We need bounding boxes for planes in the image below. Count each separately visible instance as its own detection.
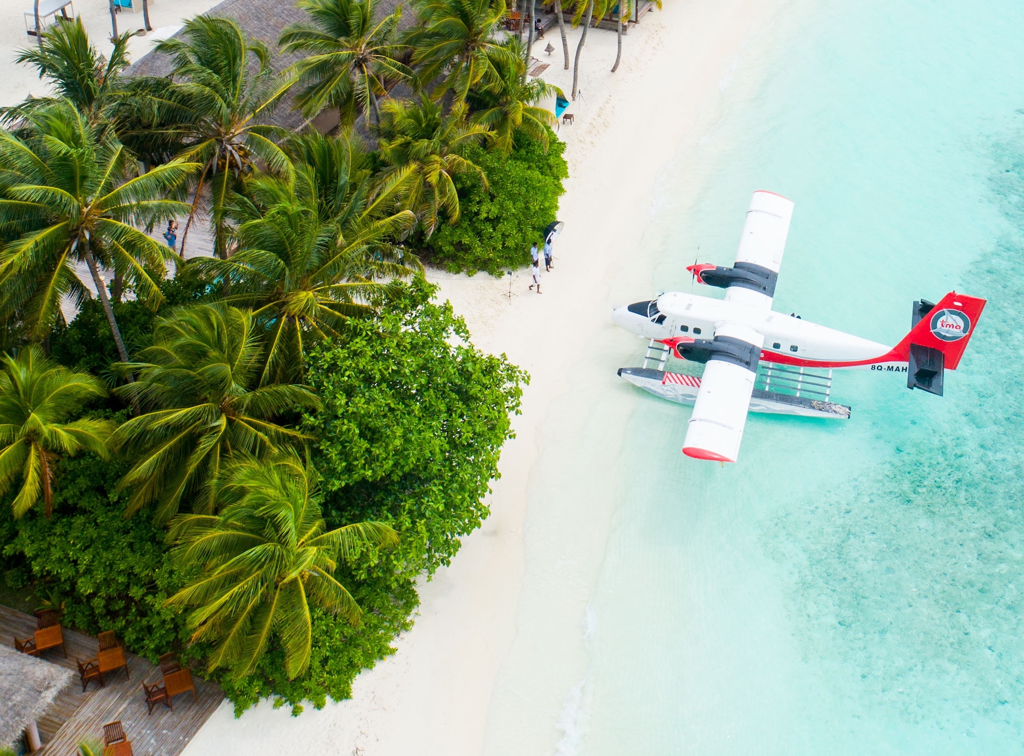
[612,191,986,462]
